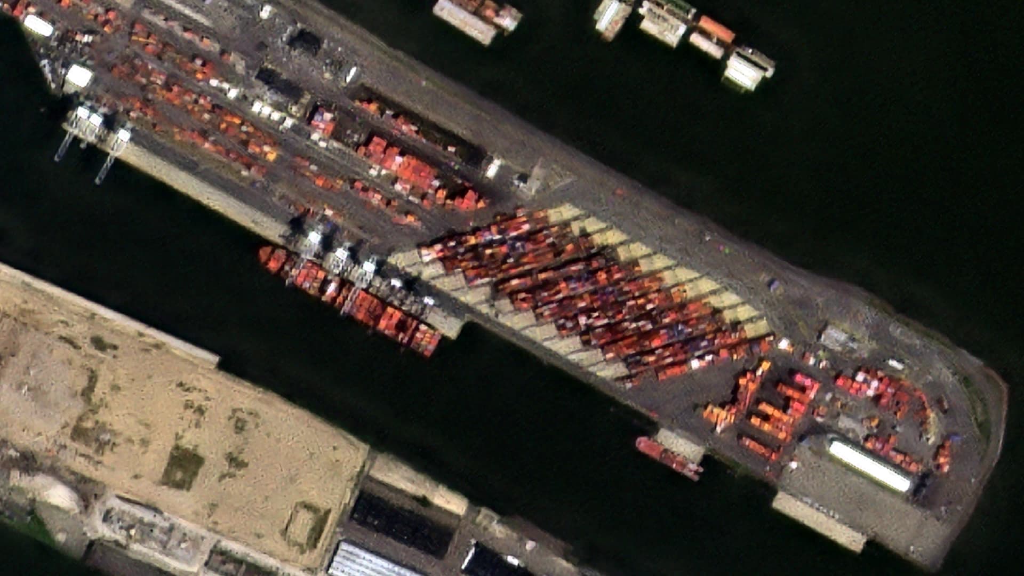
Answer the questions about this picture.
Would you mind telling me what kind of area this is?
port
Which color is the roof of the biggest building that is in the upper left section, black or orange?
black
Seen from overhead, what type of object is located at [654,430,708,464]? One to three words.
pier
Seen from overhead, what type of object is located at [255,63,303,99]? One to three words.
building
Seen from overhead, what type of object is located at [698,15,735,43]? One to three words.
ship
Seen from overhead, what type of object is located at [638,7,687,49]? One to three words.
vessel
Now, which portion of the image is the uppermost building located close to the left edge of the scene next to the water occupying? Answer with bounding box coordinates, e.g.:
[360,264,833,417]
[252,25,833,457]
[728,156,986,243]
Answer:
[23,13,54,37]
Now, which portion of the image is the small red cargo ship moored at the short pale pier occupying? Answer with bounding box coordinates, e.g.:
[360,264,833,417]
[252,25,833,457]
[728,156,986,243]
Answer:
[635,440,705,482]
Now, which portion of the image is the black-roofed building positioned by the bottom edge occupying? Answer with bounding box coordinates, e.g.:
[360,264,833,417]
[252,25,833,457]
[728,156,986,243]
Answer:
[466,546,529,576]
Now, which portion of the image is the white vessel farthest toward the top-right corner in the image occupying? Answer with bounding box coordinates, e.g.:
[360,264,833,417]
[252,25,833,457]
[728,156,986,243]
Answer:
[722,45,773,93]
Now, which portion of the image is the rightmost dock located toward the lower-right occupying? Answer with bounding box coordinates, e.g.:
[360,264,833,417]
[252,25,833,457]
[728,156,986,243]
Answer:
[772,489,868,553]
